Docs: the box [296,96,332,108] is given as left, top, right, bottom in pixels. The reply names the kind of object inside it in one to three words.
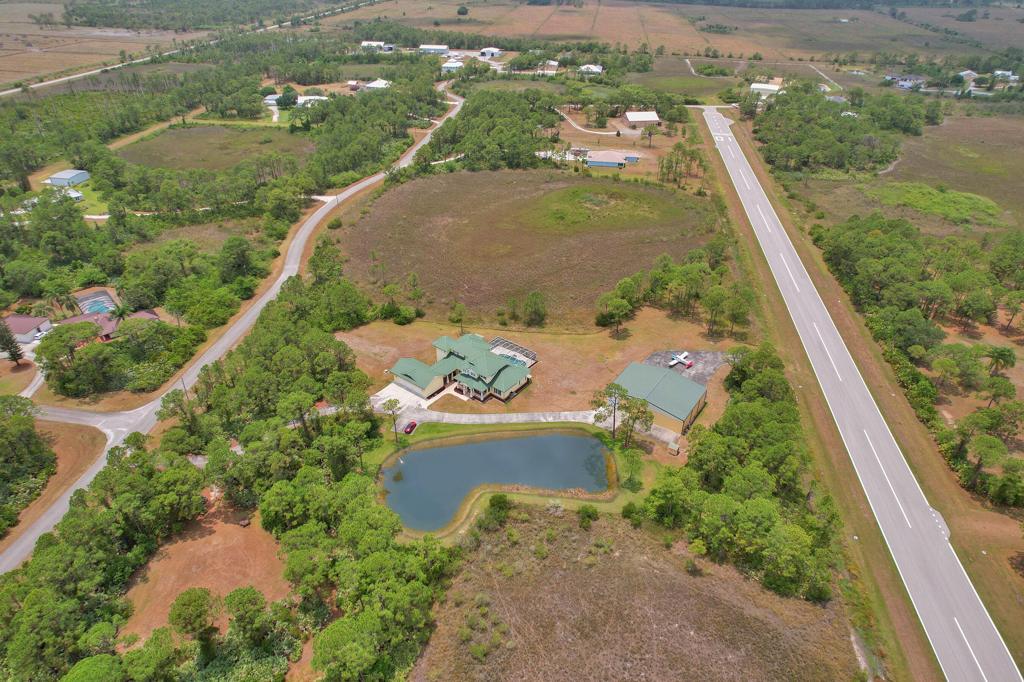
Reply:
house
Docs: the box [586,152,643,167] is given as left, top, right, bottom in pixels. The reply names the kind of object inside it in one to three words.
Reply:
house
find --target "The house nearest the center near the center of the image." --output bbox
[389,332,533,400]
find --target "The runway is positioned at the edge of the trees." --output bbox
[703,103,1024,682]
